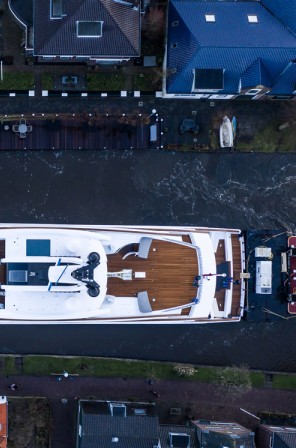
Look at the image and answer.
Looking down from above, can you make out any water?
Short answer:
Yes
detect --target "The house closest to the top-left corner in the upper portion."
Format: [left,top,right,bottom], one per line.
[8,0,141,60]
